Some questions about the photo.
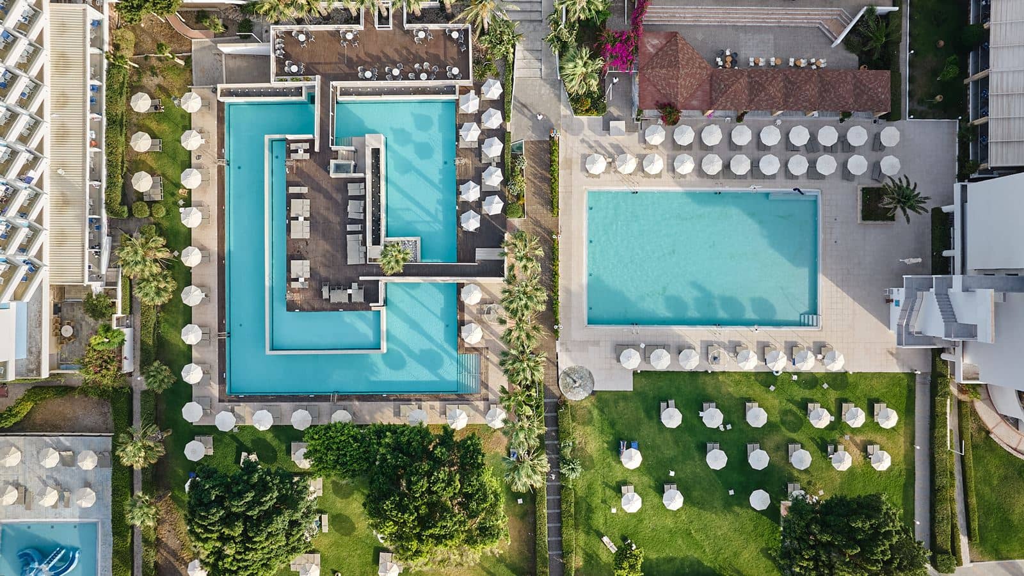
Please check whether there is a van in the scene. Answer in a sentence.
No, I can't see a single van in this photo.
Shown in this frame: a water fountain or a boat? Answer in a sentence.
I can see a water fountain in this picture.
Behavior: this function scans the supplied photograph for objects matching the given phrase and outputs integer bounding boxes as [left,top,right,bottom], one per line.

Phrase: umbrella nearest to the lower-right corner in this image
[869,450,891,471]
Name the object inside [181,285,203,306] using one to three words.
umbrella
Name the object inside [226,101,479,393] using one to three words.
swimming pool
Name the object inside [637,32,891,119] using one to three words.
building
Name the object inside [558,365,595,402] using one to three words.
fountain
